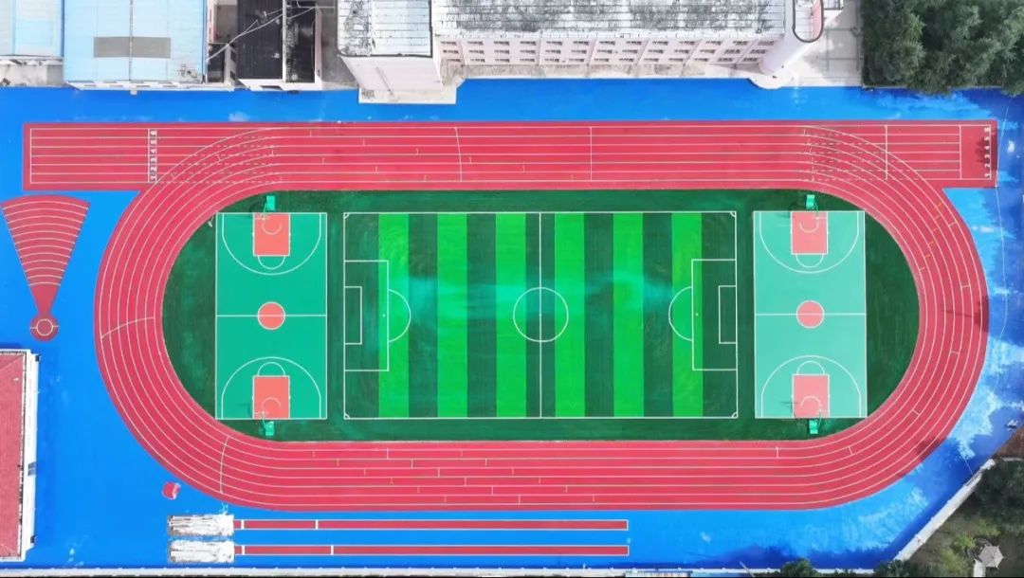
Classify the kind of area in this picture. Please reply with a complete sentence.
It's a sports ground.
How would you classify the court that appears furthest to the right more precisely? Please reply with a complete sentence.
In the photo, the court that appears furthest to the right shows up as a basketball court.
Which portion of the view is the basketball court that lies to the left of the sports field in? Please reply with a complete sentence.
The basketball court that lies to the left of the sports field sits in the left section of the image.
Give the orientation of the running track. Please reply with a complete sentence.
The running track is oriented from left to right.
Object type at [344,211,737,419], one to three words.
sports field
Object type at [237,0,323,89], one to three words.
building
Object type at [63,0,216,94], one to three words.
shed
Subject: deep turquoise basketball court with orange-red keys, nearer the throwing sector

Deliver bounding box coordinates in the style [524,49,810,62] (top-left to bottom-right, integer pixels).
[216,212,327,419]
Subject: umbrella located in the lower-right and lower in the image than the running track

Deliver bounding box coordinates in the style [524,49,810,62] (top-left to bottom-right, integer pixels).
[976,546,1002,568]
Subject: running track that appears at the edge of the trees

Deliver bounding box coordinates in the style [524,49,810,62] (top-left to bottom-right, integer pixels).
[23,120,998,511]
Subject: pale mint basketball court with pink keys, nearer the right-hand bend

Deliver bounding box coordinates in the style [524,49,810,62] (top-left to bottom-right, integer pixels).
[753,211,867,418]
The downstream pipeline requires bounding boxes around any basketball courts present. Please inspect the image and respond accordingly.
[753,211,867,418]
[216,212,327,419]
